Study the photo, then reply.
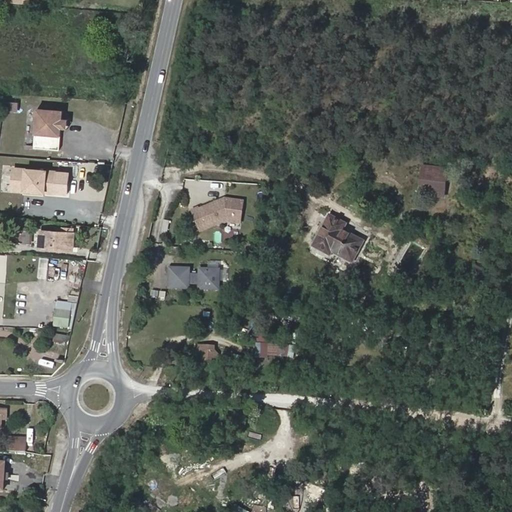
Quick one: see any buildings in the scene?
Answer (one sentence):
Yes, there's a building down there.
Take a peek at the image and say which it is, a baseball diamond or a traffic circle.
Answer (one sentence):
The image shows a traffic circle.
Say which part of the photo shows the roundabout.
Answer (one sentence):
The roundabout is in the bottom left part of the image.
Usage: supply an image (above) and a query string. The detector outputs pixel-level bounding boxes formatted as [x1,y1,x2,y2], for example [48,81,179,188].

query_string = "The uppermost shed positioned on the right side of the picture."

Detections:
[420,164,446,197]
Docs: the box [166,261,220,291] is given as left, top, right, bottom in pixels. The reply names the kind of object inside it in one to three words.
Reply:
house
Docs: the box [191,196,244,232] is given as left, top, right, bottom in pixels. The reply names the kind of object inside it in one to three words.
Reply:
house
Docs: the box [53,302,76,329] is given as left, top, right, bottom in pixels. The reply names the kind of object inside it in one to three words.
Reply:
shed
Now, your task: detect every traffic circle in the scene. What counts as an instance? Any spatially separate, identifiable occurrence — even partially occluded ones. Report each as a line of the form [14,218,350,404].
[47,354,153,438]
